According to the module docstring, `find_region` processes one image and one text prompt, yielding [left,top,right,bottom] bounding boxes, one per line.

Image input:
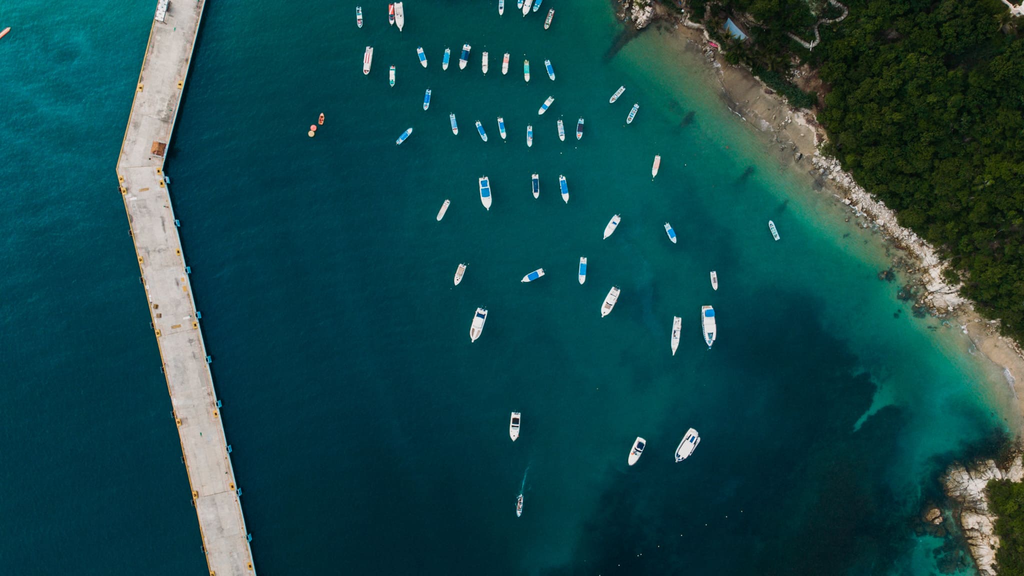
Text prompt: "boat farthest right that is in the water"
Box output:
[768,220,780,240]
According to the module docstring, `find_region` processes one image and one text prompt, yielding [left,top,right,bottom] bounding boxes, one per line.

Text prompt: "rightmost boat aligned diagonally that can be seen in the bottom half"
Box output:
[675,428,699,464]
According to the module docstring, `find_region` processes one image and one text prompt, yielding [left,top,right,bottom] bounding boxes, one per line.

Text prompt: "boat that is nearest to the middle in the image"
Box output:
[521,268,547,282]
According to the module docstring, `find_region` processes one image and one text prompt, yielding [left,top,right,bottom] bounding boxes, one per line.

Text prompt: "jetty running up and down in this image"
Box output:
[116,0,258,576]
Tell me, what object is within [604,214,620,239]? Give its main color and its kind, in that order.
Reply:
white boat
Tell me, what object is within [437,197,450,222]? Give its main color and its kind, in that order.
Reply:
white boat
